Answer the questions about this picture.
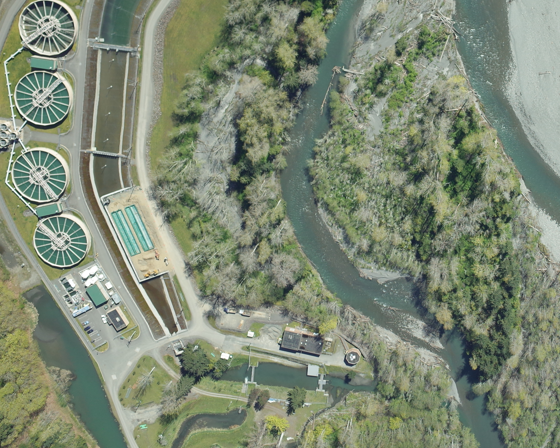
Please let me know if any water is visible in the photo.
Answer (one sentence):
Yes, water can be seen from above here.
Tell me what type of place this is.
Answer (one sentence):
This looks like an industrial area.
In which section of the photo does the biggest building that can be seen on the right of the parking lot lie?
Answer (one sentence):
The biggest building that can be seen on the right of the parking lot appears toward the bottom of the photo.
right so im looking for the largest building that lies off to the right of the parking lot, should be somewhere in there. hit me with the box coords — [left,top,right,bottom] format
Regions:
[280,325,324,355]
